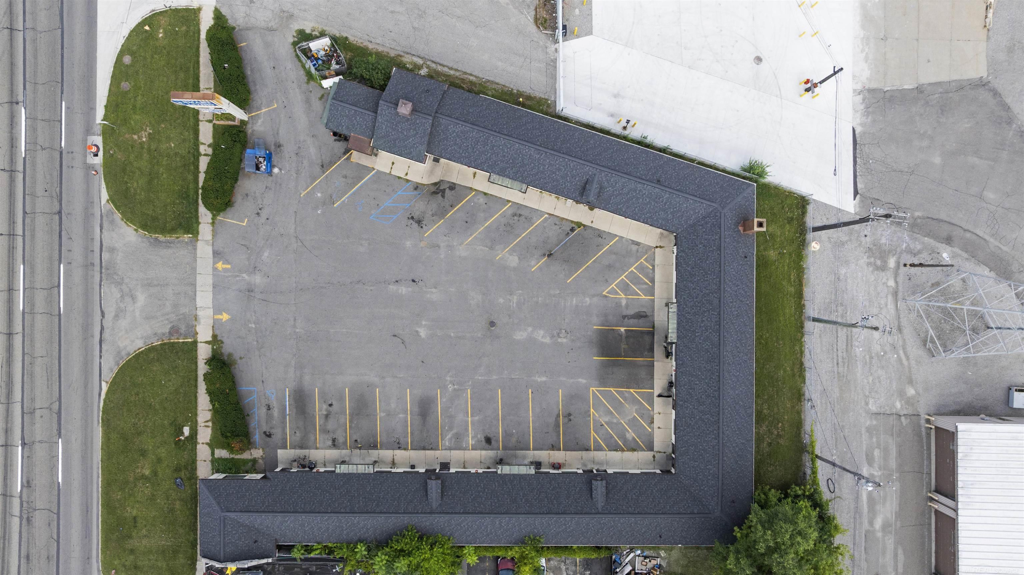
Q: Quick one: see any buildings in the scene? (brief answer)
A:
Yes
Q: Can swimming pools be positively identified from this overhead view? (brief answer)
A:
No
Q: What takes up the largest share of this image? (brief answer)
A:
paved ground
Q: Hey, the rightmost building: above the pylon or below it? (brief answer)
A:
below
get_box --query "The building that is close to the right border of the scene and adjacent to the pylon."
[930,416,1024,575]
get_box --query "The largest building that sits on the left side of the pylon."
[198,67,766,570]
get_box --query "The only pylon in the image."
[901,268,1024,359]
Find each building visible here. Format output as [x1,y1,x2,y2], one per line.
[930,416,1024,575]
[198,67,766,570]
